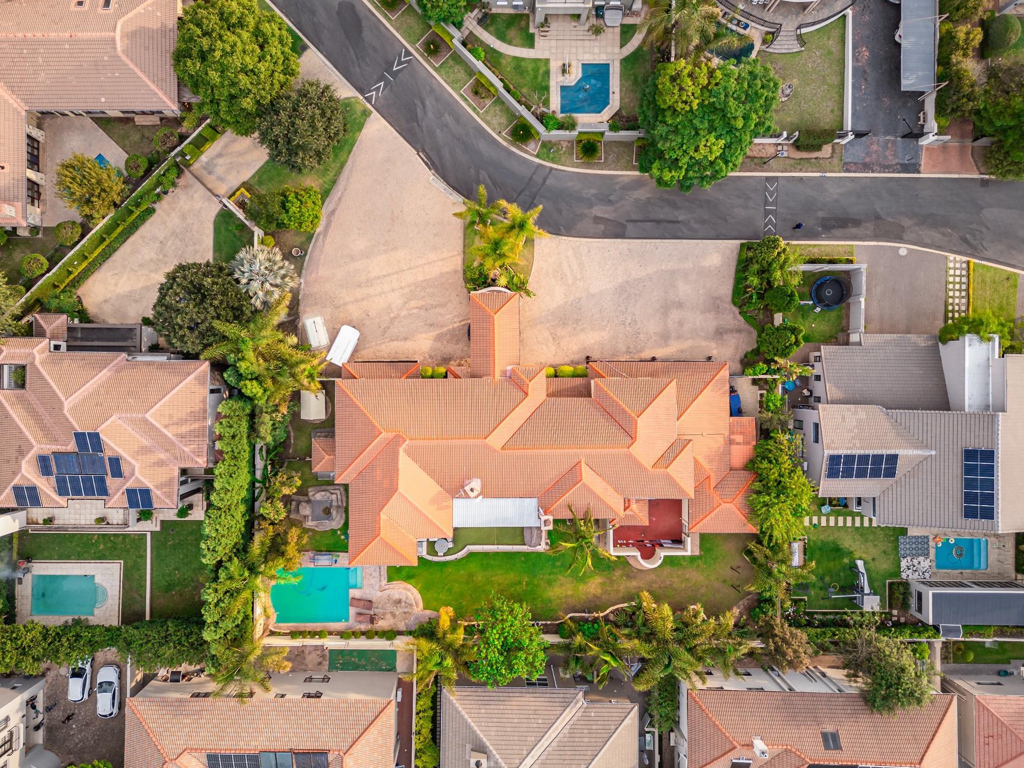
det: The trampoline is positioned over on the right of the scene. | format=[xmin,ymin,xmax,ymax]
[809,269,860,312]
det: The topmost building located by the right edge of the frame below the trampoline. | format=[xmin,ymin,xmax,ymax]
[800,334,1024,534]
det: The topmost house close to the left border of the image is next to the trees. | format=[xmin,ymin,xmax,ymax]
[0,0,199,227]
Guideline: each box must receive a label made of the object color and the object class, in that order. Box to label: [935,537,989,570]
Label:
blue swimming pool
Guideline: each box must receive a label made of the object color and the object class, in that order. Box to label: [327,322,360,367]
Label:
white trailer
